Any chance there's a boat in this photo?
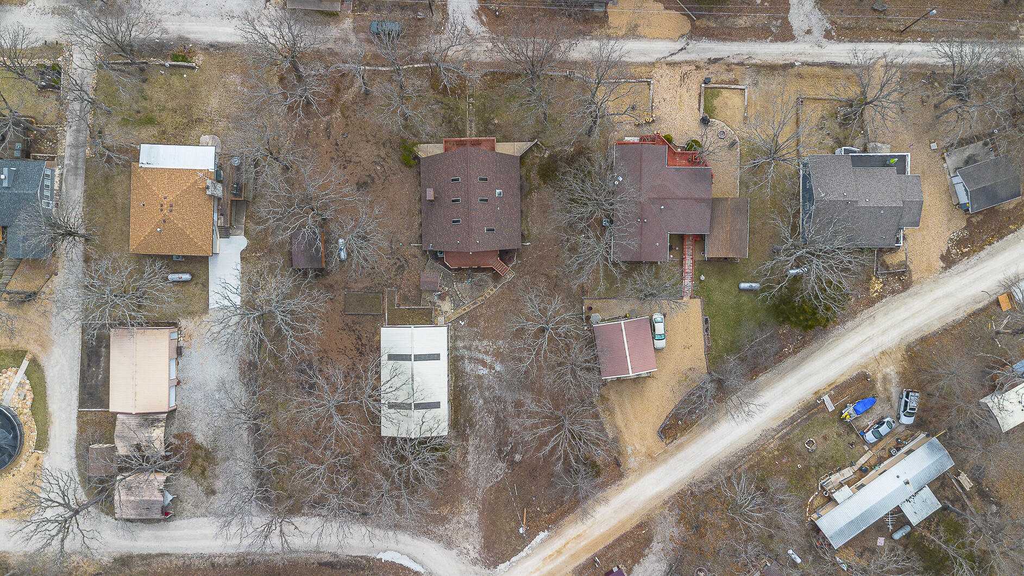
Yes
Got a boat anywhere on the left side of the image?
No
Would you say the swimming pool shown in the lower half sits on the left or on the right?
left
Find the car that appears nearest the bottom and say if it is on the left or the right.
right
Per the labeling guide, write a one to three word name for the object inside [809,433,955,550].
house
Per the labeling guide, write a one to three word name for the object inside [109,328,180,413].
building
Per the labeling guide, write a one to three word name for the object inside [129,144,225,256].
house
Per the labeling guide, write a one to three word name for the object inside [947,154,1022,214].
shed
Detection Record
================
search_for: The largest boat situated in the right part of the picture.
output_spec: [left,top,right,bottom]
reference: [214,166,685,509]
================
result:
[839,396,878,423]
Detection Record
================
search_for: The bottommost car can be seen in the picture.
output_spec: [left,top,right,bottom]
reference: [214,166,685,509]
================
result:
[861,415,897,445]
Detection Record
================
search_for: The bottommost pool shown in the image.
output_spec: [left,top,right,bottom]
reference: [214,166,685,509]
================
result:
[0,402,29,468]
